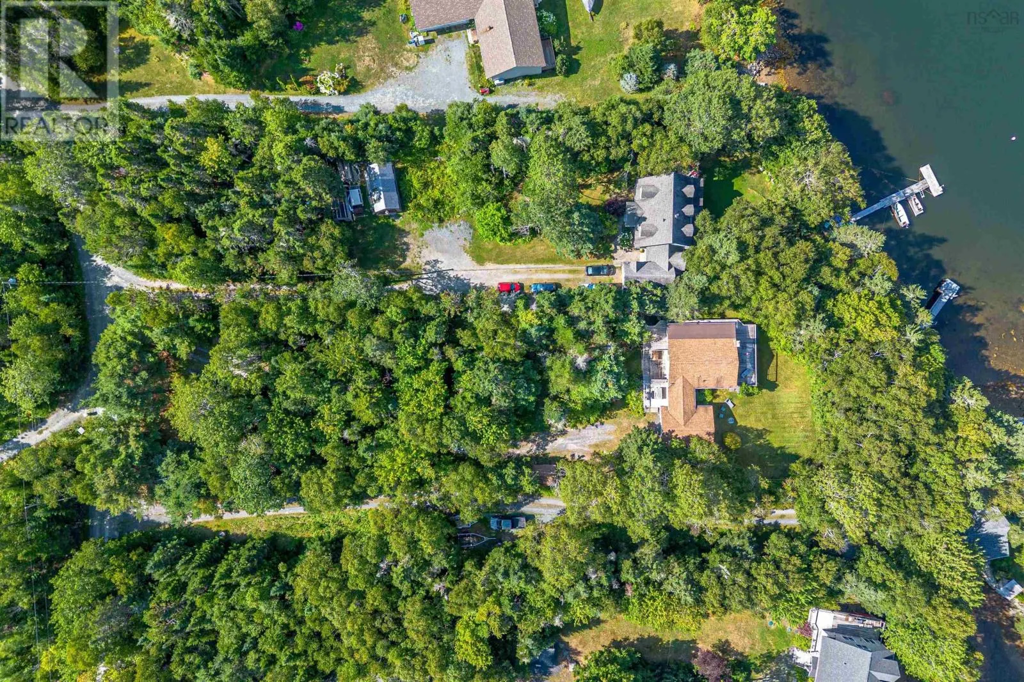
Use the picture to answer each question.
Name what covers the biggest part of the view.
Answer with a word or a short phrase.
trees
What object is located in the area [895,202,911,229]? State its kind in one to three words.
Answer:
boat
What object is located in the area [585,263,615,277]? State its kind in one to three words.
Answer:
car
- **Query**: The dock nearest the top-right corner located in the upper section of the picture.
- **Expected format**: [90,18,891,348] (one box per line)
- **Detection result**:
[849,163,945,219]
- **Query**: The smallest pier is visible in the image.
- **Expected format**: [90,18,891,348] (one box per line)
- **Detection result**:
[928,278,959,321]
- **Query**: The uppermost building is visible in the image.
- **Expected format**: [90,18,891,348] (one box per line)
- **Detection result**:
[410,0,558,80]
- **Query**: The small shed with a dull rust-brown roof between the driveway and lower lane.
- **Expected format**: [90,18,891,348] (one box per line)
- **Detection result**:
[532,463,555,485]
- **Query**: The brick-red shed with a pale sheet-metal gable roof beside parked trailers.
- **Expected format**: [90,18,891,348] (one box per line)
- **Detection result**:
[366,161,400,216]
